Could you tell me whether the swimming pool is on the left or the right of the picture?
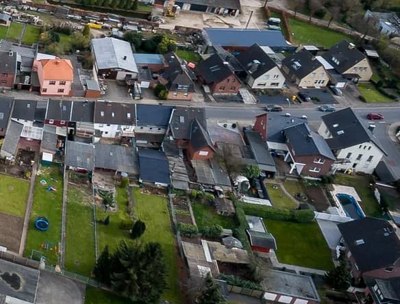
right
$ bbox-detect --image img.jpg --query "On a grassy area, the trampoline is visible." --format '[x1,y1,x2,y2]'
[33,215,51,230]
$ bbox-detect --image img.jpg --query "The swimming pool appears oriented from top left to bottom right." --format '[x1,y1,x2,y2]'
[335,189,368,222]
